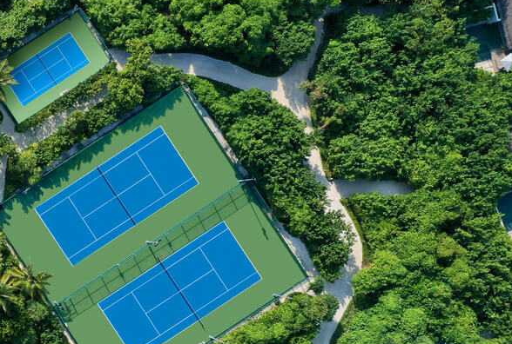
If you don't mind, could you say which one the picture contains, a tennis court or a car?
tennis court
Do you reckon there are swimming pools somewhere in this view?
Yes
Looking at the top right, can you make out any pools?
Yes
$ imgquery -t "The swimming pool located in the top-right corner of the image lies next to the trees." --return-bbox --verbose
[467,15,505,64]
